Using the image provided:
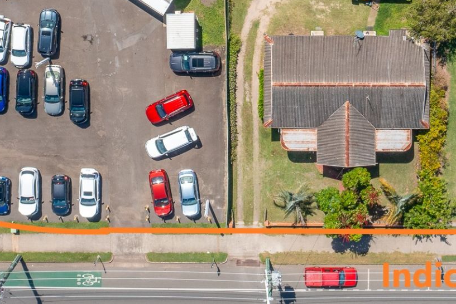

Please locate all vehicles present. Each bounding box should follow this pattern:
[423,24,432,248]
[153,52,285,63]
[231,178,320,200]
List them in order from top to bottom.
[37,8,61,57]
[0,14,13,63]
[7,21,32,68]
[169,50,221,74]
[42,66,65,115]
[0,68,8,113]
[14,70,38,115]
[68,79,90,123]
[146,90,193,123]
[145,126,199,157]
[17,167,41,217]
[77,168,100,218]
[149,169,174,217]
[178,169,202,219]
[50,174,71,215]
[0,177,12,214]
[305,265,357,290]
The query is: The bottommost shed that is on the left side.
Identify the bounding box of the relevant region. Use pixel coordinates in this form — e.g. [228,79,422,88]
[166,14,198,50]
